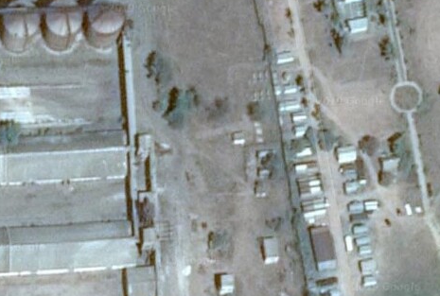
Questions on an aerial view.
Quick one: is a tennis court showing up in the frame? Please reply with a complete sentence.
No, no tennis court can be seen from above.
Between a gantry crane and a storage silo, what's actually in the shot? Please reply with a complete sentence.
I can see a storage silo in this picture.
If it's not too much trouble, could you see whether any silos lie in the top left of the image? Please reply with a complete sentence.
Yes, in the top left of the image there is a silo.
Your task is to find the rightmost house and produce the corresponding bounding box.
[380,157,402,175]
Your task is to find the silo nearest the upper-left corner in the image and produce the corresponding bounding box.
[1,3,40,52]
